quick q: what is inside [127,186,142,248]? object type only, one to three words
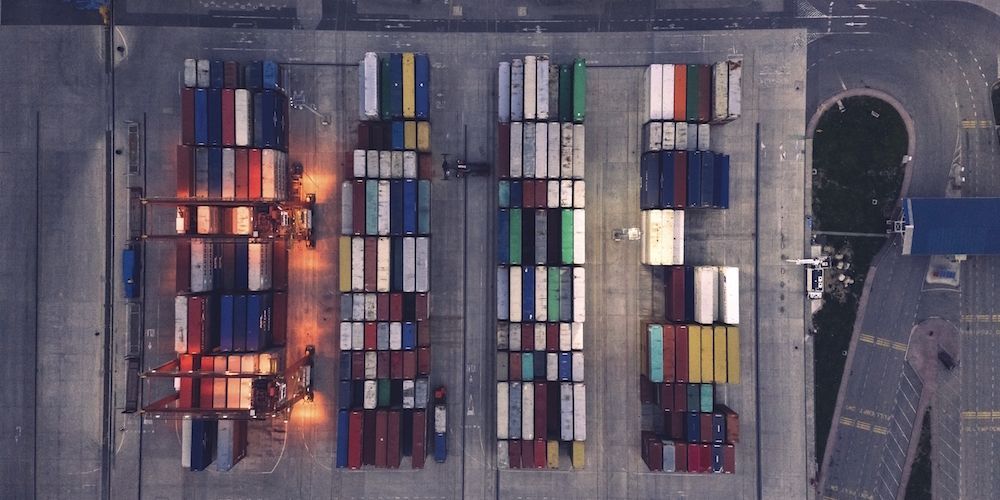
rail car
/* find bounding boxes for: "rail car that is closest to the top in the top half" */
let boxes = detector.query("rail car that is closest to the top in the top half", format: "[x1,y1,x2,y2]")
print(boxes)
[127,119,142,178]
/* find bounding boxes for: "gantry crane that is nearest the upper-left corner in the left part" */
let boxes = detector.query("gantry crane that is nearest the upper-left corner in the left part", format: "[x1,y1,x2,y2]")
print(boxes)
[138,193,313,253]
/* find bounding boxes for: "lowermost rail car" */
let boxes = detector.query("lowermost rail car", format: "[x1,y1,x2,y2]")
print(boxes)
[126,355,141,413]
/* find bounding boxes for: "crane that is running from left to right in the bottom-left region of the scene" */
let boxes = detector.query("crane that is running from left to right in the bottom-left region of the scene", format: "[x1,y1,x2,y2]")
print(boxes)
[138,344,313,421]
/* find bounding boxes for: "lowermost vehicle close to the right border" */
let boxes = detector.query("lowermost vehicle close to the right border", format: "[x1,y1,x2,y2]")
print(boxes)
[932,347,954,369]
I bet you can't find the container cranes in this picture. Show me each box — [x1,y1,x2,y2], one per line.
[138,193,313,253]
[138,344,313,421]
